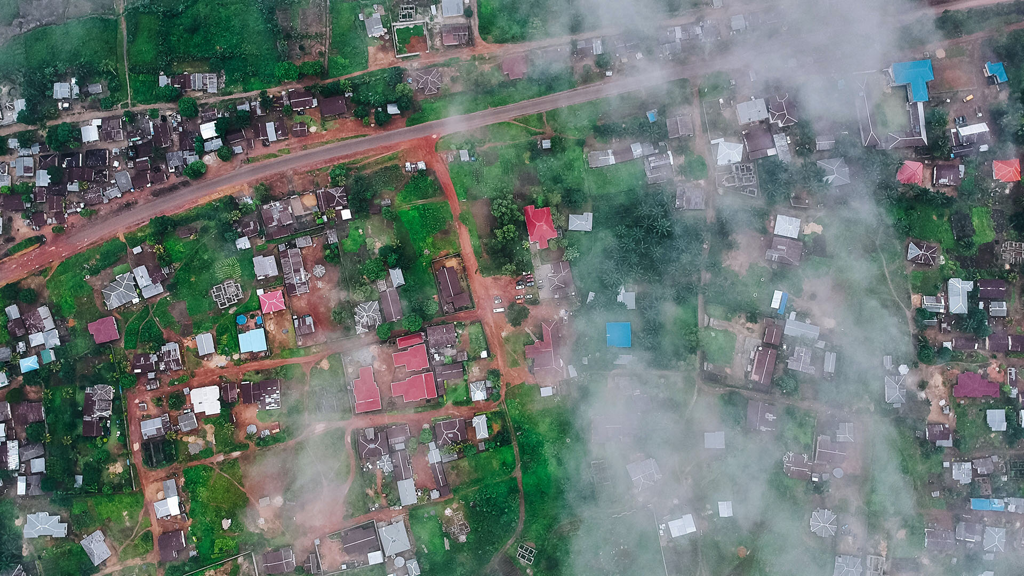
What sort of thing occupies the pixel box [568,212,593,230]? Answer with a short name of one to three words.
house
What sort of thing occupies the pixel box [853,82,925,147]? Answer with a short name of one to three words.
building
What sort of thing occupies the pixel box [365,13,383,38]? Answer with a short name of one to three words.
house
